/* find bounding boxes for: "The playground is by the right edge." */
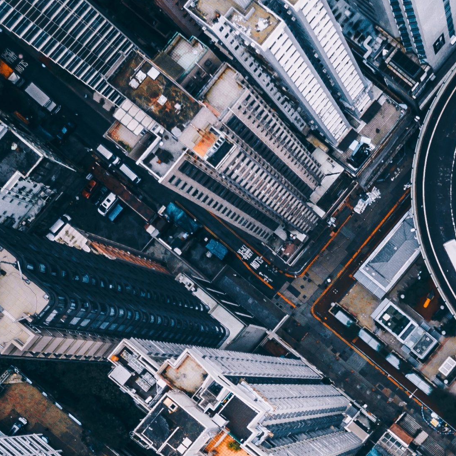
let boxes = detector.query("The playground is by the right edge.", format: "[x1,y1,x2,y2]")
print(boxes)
[409,285,439,331]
